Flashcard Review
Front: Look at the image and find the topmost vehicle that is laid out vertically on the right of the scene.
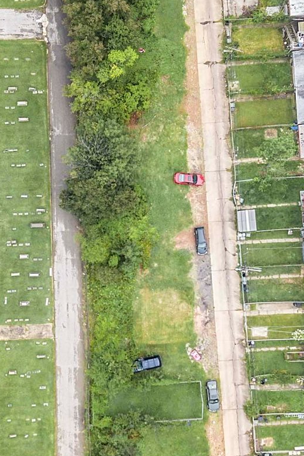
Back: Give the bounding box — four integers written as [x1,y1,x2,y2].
[193,224,210,256]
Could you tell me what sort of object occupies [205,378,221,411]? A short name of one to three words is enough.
car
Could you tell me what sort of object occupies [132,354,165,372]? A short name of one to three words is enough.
car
